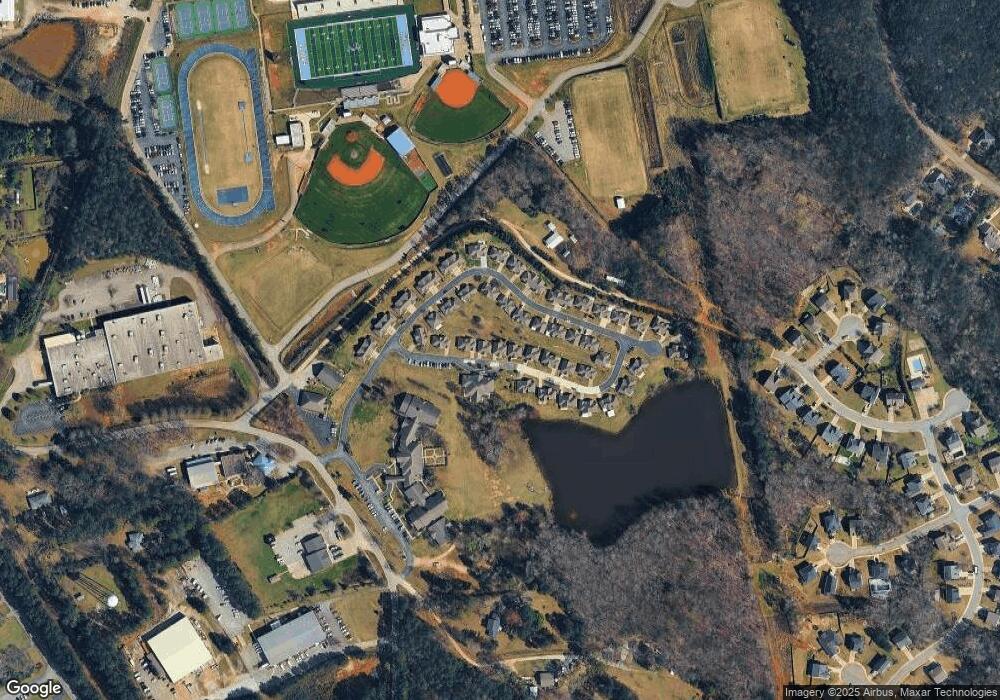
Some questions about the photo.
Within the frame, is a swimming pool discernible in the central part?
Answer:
No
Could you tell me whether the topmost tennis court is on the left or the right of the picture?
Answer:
left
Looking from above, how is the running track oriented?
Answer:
from top to bottom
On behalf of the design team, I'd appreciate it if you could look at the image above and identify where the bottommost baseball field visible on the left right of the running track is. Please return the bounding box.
[294,124,431,246]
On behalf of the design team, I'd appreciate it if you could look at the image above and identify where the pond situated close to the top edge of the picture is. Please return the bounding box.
[8,21,79,78]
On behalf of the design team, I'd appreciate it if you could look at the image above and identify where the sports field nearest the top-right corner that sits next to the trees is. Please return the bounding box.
[708,0,806,120]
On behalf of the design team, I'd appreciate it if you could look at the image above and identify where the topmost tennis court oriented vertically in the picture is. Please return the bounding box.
[153,57,172,96]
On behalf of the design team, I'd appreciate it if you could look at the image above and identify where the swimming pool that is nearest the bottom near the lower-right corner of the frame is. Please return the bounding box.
[869,578,891,596]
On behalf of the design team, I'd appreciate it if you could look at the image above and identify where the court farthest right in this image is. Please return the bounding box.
[173,0,251,40]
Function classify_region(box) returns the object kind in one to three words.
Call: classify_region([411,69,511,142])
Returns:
baseball field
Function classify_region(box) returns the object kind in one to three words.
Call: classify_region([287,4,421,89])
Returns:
sports field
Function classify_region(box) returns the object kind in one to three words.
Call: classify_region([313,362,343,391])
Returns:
building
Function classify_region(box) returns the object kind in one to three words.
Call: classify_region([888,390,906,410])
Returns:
house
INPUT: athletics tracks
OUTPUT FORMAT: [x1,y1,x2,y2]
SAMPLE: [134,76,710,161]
[179,44,276,226]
